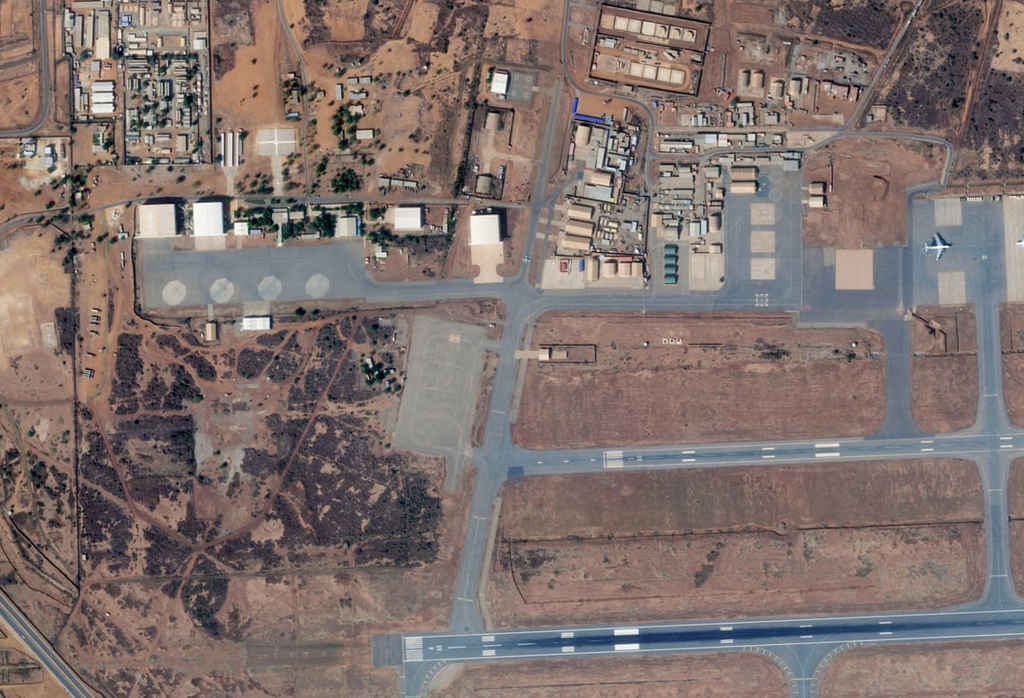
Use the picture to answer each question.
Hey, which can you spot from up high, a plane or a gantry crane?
plane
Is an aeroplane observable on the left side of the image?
No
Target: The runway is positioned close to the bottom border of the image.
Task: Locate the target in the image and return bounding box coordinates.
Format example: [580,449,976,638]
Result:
[371,606,1024,666]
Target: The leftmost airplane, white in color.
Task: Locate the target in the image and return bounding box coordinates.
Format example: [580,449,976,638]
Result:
[925,233,949,261]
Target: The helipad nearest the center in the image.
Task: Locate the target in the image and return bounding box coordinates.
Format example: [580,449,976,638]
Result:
[305,275,329,299]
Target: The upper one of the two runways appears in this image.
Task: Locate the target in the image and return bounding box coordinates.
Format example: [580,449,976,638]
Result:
[503,429,1024,476]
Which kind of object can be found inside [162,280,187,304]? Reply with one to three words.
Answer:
helipad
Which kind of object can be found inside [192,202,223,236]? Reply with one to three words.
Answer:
hangar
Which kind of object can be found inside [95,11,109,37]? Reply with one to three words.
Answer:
building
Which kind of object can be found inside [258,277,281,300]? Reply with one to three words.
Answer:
helipad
